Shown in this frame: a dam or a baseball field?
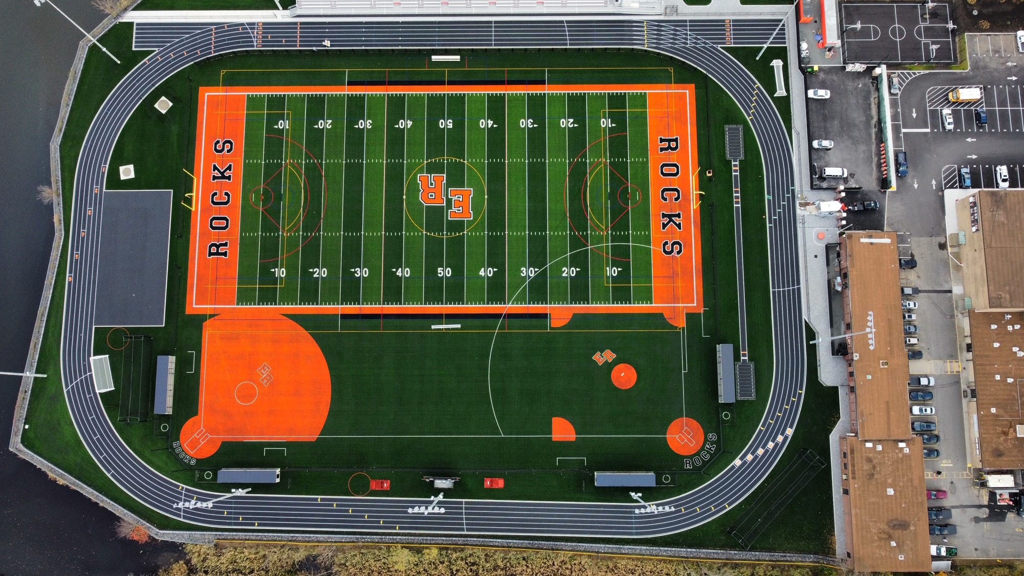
baseball field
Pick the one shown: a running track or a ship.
running track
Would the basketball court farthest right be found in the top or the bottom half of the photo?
top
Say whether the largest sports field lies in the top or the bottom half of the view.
top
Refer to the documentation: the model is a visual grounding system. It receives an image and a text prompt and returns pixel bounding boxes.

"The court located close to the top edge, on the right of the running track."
[843,0,958,65]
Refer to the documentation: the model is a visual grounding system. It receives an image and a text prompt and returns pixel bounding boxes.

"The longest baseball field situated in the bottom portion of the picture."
[161,309,670,480]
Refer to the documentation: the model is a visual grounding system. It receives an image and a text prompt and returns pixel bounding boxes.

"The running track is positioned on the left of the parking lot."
[60,19,807,539]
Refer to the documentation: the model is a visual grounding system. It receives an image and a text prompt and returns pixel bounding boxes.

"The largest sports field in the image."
[186,57,703,332]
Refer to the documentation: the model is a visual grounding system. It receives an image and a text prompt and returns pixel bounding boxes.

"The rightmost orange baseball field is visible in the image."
[488,243,730,483]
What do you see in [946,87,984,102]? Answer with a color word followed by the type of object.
white vehicle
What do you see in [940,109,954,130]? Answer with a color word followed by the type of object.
white car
